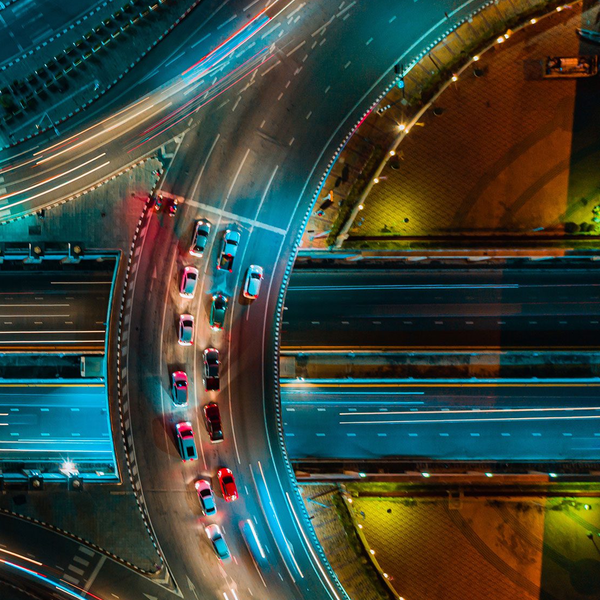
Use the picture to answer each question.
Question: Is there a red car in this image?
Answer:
Yes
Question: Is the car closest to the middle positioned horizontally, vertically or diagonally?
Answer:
vertically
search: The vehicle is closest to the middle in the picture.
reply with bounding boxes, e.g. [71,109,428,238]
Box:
[243,265,263,300]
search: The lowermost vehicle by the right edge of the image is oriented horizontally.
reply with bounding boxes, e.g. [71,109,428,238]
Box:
[547,54,600,76]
